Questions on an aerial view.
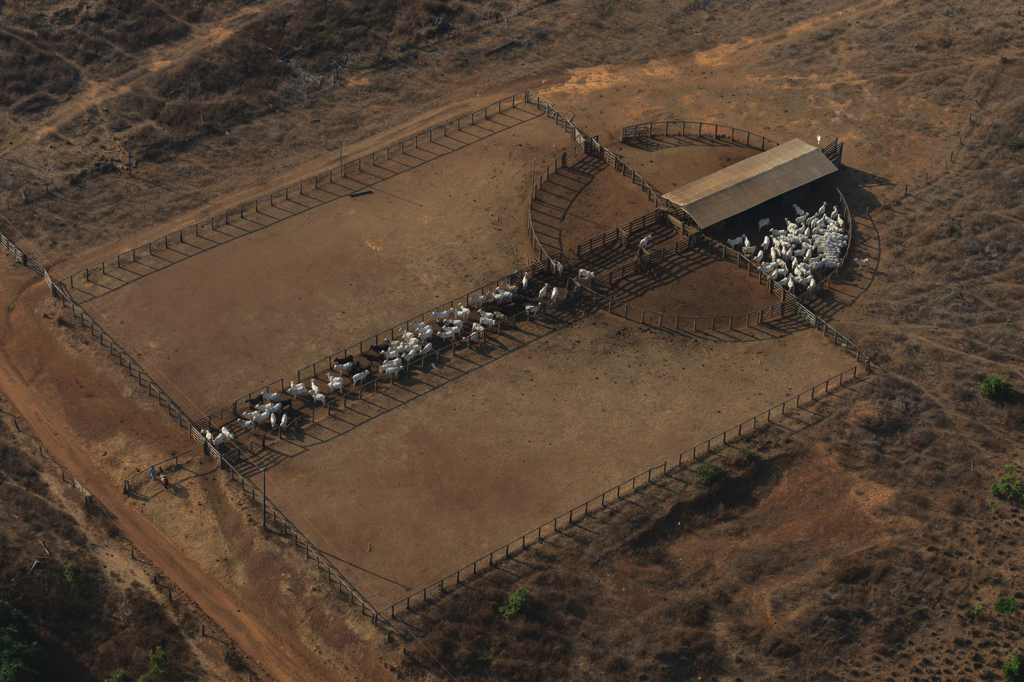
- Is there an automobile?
No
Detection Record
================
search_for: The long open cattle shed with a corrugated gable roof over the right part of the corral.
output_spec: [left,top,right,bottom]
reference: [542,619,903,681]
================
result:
[662,137,836,245]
